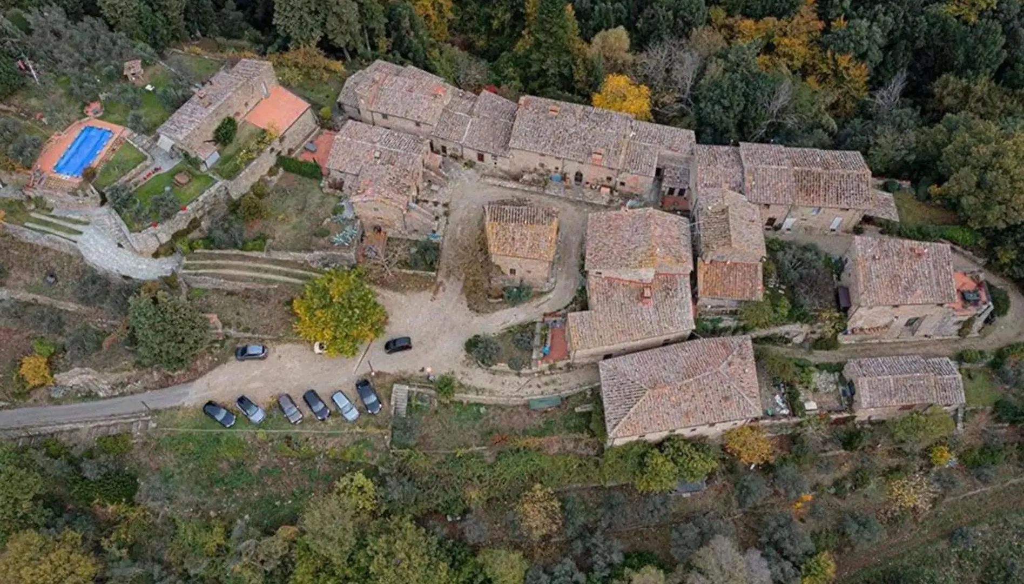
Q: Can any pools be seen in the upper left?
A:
Yes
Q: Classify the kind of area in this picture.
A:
residential area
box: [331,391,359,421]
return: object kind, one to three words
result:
car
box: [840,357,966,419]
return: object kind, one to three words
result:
barn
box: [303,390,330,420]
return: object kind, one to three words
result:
car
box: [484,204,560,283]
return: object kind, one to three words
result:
house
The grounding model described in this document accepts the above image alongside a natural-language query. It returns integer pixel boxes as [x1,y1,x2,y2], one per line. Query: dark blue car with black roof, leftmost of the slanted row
[202,400,236,427]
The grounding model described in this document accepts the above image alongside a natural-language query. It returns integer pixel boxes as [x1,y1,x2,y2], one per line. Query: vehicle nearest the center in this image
[385,337,412,354]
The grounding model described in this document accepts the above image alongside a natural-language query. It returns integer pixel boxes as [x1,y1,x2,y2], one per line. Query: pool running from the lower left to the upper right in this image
[50,125,117,180]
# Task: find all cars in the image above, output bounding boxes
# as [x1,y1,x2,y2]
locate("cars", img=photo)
[234,344,269,361]
[276,393,303,423]
[202,400,236,427]
[385,337,412,354]
[236,395,265,423]
[303,390,330,420]
[331,391,359,421]
[357,379,382,414]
